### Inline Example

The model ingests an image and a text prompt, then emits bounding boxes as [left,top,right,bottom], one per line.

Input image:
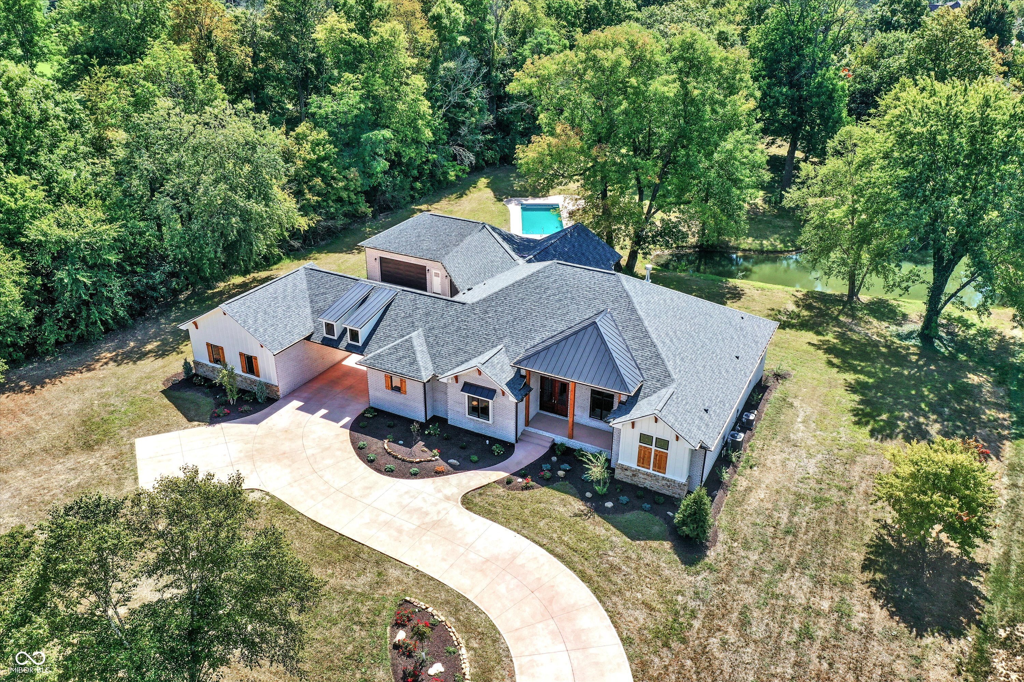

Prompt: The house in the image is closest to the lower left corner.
[177,212,783,498]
